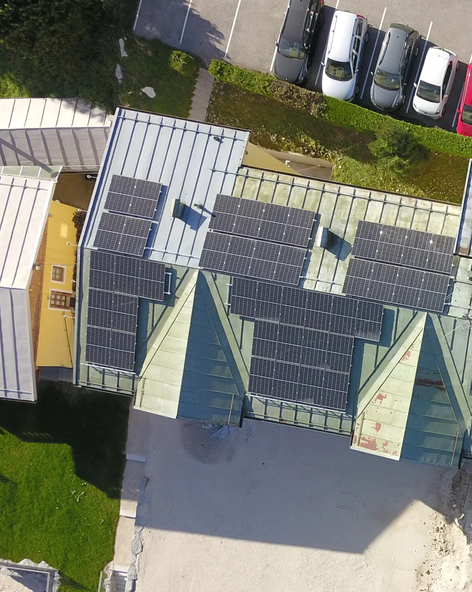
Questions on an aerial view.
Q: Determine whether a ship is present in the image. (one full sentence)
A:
No, I can see no ship in this picture.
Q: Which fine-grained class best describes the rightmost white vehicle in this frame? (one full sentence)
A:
The rightmost white vehicle can be classified as a car.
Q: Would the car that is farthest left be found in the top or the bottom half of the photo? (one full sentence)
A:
The car that is farthest left is in the top half of the image.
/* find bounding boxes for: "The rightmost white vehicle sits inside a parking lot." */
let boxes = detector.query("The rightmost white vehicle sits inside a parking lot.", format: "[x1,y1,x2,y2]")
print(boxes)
[410,36,460,120]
